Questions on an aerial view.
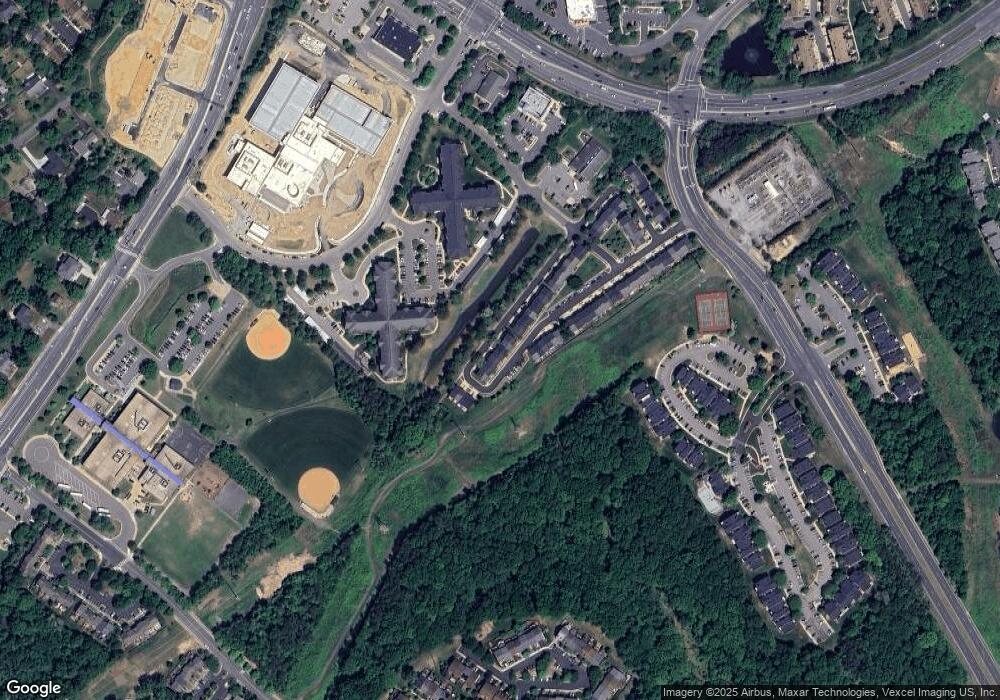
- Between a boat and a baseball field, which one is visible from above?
baseball field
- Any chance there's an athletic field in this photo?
Yes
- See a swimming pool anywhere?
Yes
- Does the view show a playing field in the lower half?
Yes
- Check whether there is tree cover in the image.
Yes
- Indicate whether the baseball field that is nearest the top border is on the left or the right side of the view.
left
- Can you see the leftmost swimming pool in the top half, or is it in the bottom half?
bottom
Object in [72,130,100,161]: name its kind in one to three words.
house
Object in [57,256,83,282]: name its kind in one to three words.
house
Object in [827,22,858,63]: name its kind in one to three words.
building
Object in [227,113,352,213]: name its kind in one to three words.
building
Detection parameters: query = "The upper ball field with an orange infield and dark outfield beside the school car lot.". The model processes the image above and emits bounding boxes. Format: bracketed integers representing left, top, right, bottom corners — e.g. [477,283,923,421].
[203,308,335,410]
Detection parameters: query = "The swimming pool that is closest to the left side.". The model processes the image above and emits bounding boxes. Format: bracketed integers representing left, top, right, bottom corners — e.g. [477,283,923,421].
[698,481,724,514]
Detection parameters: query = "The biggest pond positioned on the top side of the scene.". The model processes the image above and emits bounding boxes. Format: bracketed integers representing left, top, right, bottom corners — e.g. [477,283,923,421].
[723,21,780,76]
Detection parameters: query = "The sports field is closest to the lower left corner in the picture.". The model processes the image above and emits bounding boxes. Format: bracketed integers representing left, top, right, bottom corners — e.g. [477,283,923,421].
[142,486,240,589]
